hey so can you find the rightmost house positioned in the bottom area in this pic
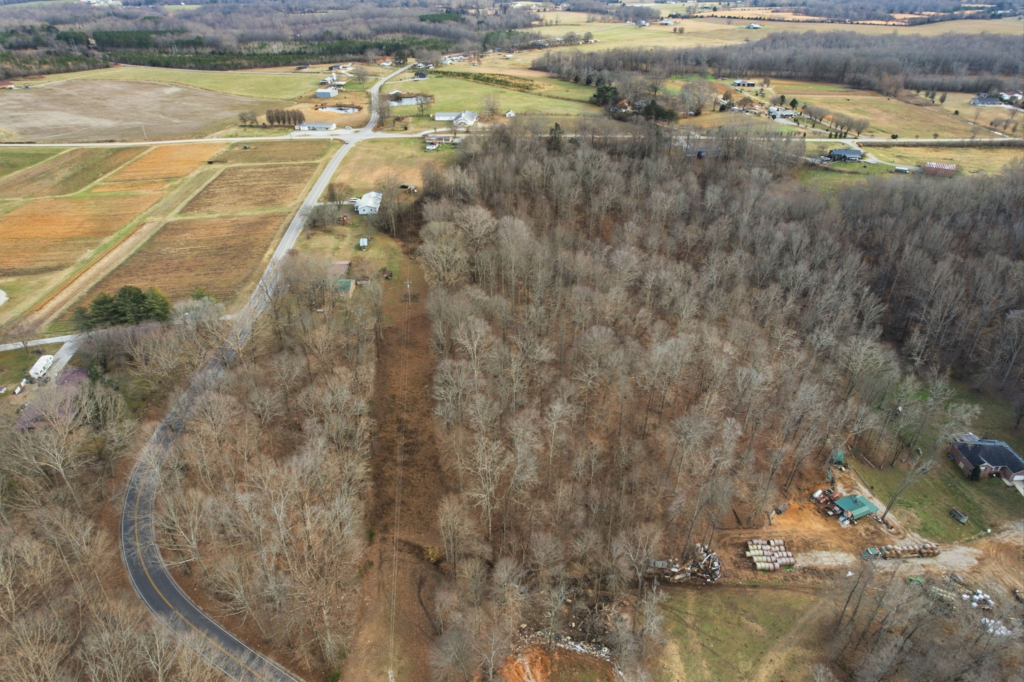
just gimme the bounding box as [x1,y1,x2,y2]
[948,435,1024,484]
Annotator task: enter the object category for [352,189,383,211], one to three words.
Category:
house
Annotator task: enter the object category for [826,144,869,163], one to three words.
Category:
house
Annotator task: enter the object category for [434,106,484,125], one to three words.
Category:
building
